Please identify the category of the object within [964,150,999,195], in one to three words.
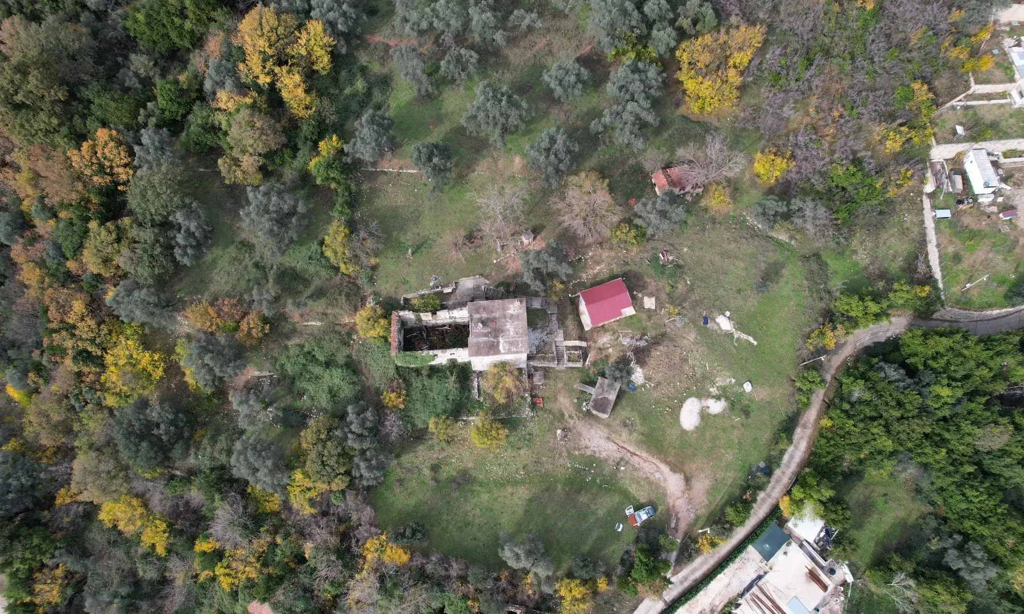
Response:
shed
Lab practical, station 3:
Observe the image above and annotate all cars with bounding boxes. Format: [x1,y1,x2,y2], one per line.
[626,503,657,526]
